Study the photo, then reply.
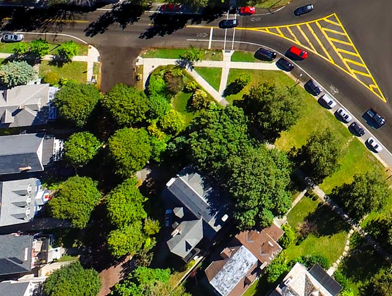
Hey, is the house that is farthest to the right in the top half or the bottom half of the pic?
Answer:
bottom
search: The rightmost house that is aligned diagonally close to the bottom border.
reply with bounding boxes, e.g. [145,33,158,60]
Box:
[200,218,286,296]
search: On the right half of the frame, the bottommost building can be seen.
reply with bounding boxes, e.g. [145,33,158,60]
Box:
[275,261,342,296]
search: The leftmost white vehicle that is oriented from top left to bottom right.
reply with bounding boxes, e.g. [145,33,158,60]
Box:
[320,93,336,107]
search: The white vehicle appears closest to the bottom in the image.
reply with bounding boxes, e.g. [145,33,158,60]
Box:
[367,137,383,152]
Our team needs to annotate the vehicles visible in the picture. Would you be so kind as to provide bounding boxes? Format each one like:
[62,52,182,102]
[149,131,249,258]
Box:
[257,48,276,60]
[305,80,320,94]
[239,6,256,14]
[320,93,336,107]
[296,4,313,14]
[349,122,365,136]
[367,137,383,152]
[5,33,22,41]
[336,107,352,121]
[288,45,309,59]
[276,58,293,70]
[364,109,383,126]
[221,20,237,27]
